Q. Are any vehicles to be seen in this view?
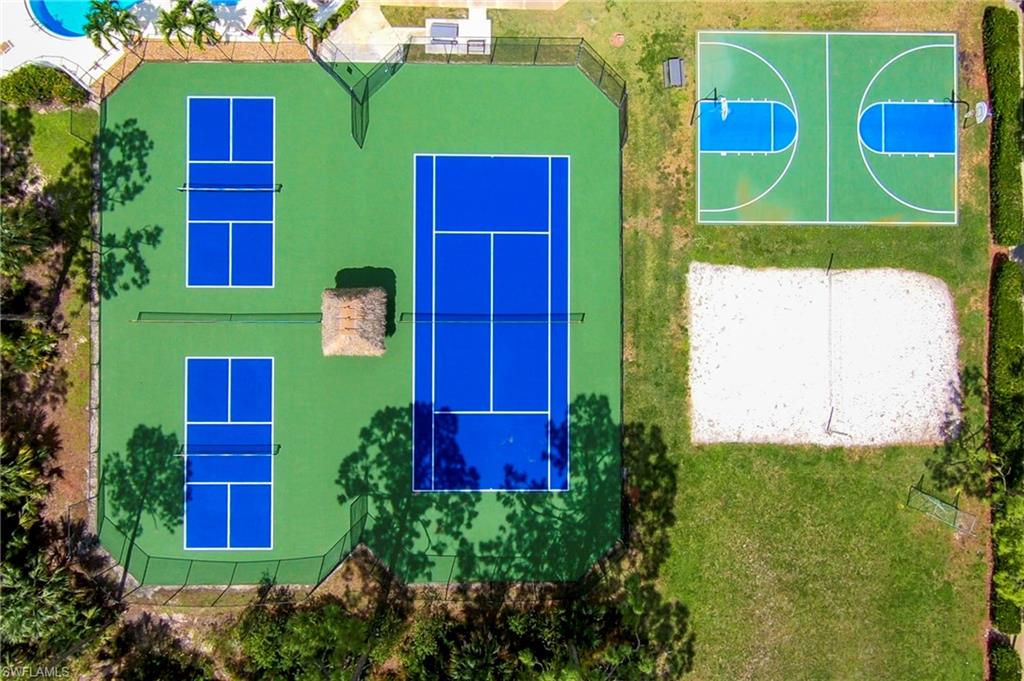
No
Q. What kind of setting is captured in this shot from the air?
sports ground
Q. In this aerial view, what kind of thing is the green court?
basketball court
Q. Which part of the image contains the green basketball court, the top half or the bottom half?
top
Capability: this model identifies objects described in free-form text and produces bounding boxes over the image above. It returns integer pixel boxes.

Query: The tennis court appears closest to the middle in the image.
[414,154,569,491]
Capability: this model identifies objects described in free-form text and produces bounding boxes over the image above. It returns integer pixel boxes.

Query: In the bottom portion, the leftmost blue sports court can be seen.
[184,357,273,550]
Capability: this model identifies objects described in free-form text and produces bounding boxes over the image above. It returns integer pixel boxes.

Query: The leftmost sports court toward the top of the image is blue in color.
[187,96,274,287]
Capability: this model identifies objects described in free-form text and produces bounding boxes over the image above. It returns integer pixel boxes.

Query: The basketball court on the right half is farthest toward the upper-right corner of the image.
[697,31,958,224]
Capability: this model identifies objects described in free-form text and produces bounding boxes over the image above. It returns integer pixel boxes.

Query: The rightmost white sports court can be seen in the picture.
[688,263,962,448]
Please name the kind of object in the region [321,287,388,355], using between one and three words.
shed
